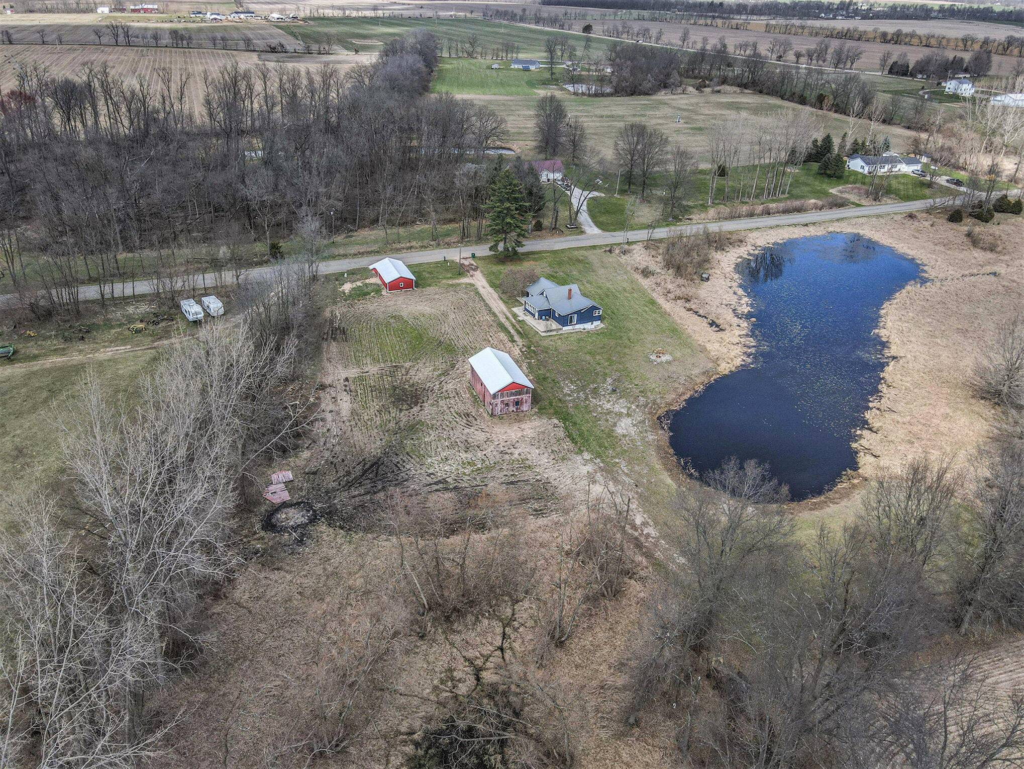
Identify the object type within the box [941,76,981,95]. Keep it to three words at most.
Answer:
house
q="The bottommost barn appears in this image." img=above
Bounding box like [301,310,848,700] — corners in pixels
[472,347,534,416]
